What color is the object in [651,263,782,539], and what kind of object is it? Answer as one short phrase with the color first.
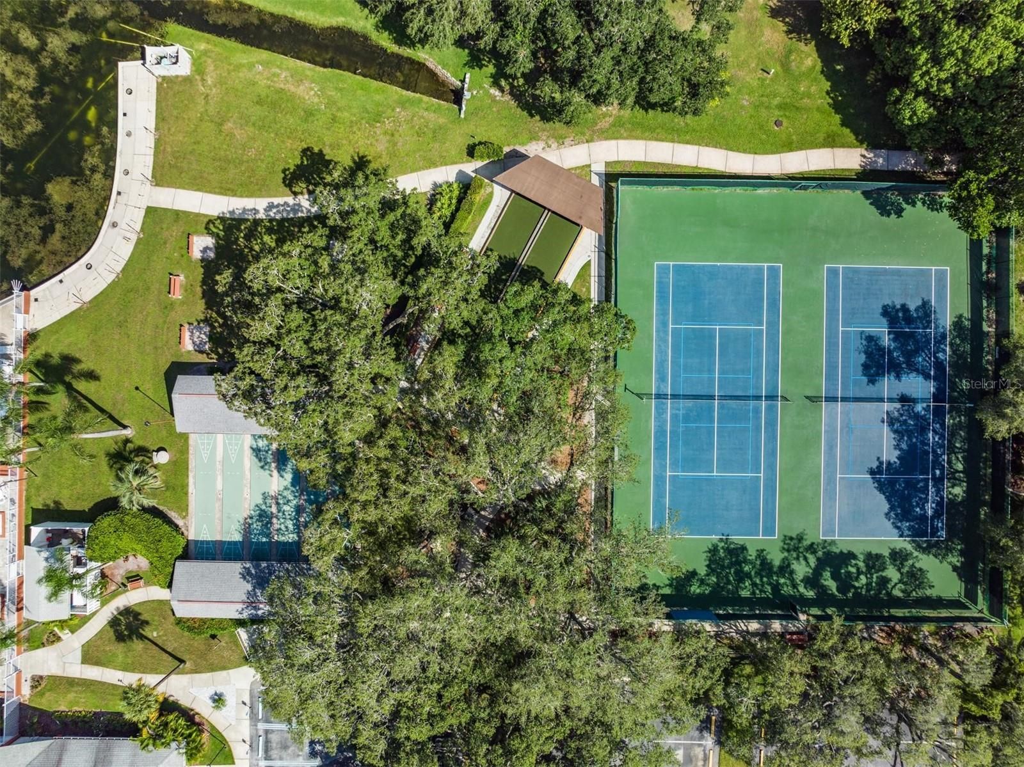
blue tennis court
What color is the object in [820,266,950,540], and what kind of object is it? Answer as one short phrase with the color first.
blue tennis court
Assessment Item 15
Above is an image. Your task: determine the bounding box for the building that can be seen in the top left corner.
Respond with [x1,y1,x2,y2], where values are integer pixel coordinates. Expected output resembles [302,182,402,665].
[141,43,191,75]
